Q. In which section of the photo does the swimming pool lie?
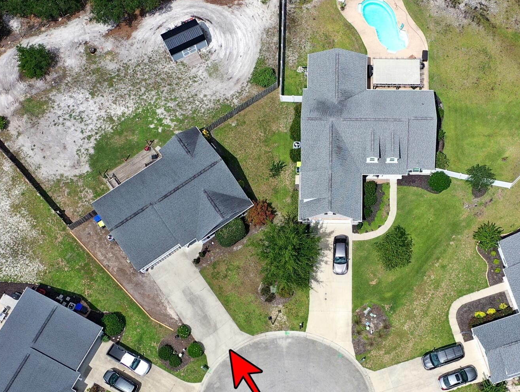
top right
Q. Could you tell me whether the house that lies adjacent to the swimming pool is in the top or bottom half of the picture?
top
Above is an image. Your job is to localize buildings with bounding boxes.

[161,17,206,60]
[298,47,437,223]
[470,232,520,384]
[0,287,104,392]
[91,126,254,274]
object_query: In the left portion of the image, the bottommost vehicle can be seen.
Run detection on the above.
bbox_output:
[101,367,143,392]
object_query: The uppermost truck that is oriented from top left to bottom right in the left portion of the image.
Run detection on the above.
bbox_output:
[103,340,154,377]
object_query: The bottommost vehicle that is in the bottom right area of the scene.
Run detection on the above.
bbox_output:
[439,365,478,391]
